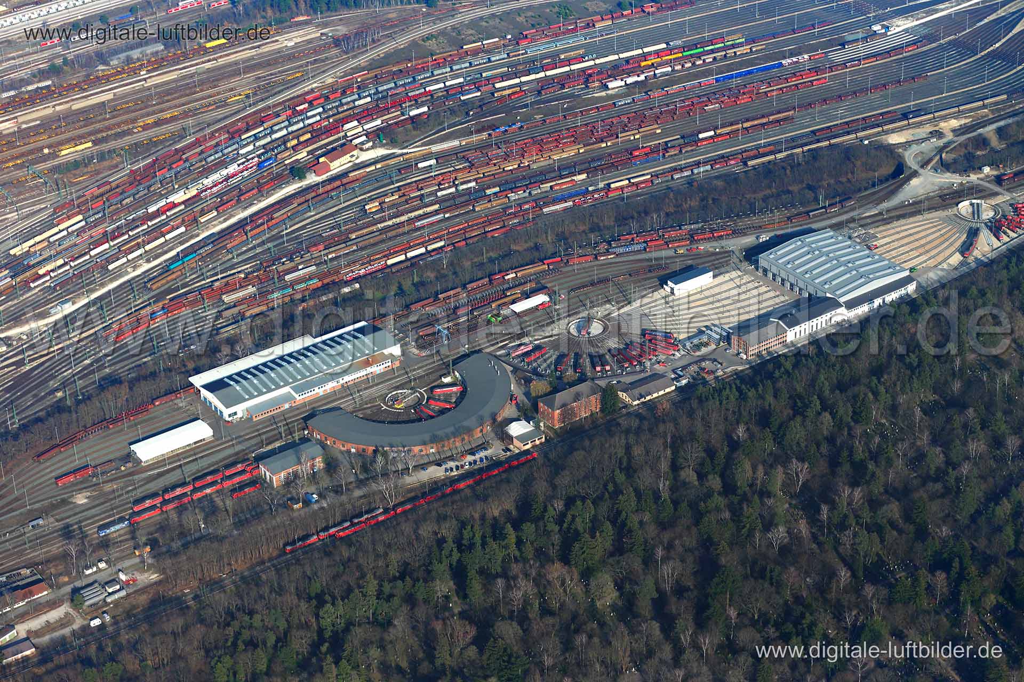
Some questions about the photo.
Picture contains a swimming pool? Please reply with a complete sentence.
No, the picture doesn't show any swimming pool.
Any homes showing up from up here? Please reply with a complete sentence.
Yes, the photo shows a home.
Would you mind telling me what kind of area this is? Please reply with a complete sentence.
It's a rail yard.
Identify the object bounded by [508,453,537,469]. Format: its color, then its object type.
red rail car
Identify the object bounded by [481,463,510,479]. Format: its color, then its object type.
red rail car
